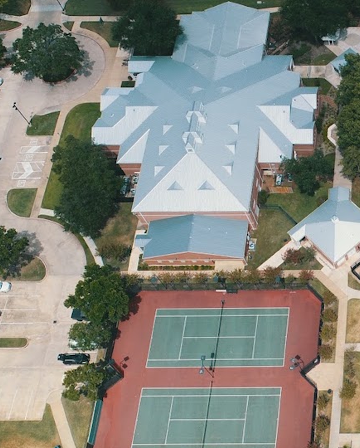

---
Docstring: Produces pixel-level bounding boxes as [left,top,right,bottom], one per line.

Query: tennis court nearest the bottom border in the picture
[90,377,315,448]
